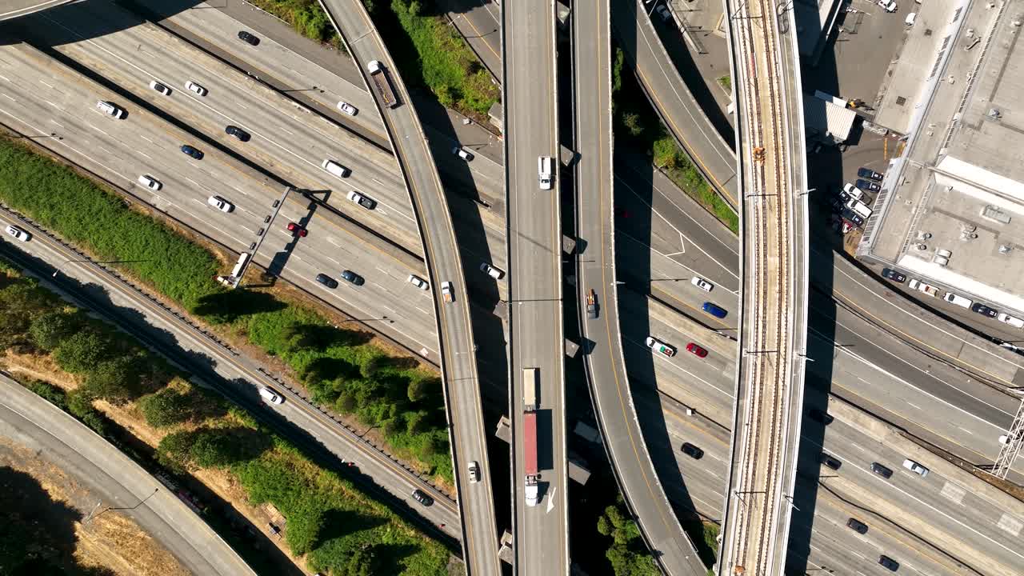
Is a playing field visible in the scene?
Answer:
No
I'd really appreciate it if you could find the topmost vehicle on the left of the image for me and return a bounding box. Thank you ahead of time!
[239,30,260,46]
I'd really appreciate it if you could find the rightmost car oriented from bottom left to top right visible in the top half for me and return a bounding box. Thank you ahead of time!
[836,219,854,236]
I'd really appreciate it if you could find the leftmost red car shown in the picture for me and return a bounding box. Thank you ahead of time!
[286,222,308,238]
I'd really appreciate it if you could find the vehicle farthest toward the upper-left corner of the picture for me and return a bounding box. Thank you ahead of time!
[95,99,124,120]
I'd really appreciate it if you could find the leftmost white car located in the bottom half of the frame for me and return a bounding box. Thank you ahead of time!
[259,387,282,403]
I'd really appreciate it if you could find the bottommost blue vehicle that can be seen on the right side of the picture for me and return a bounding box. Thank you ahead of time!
[703,301,725,318]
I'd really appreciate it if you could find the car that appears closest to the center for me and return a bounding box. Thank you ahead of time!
[480,263,502,280]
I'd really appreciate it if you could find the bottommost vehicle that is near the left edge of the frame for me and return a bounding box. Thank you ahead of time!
[5,224,30,241]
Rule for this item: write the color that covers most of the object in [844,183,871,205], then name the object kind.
white truck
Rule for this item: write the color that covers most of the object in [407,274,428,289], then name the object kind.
white car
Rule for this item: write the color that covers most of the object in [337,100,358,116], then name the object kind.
white car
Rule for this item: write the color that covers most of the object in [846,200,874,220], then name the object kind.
white vehicle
